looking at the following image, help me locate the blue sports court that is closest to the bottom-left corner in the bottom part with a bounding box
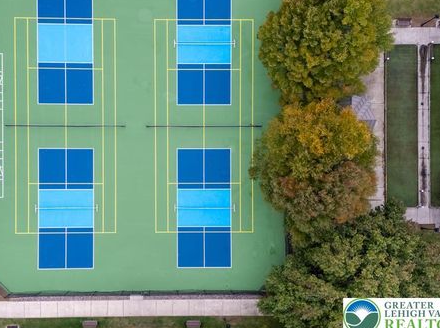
[38,148,94,269]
